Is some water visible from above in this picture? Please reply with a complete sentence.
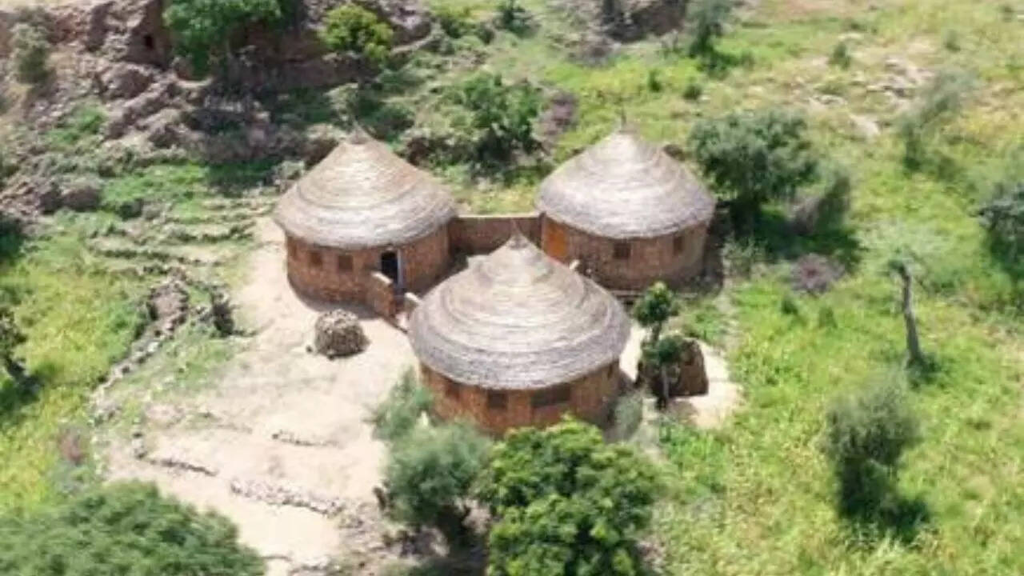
No, no water is visible.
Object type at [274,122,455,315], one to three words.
shed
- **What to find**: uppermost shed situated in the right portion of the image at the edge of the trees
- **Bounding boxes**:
[539,106,714,297]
